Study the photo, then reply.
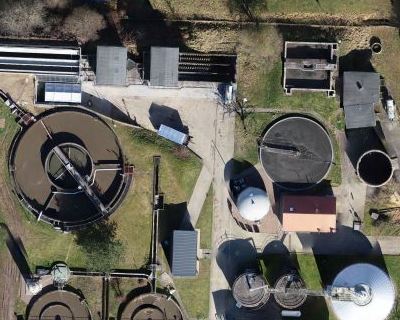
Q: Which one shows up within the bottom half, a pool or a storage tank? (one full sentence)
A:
What appears within the bottom half is a storage tank.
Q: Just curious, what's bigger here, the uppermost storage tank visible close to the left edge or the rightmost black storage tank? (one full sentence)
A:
It is the uppermost storage tank visible close to the left edge that is larger, not the rightmost black storage tank.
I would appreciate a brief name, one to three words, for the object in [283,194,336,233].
building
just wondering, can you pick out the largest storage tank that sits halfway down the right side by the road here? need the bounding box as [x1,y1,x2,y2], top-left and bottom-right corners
[259,116,334,190]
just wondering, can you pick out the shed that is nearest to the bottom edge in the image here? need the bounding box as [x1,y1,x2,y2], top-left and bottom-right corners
[172,229,200,276]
